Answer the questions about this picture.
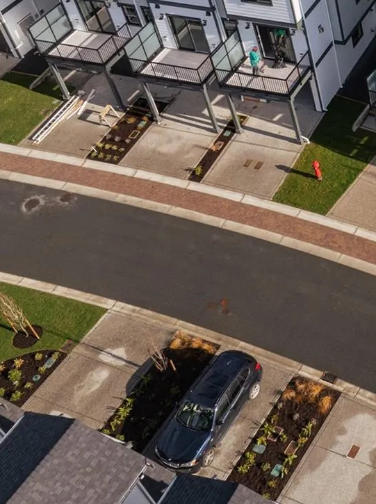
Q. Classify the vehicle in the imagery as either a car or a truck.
car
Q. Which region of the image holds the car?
bottom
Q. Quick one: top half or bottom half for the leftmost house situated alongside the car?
bottom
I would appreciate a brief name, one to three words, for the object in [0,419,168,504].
house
